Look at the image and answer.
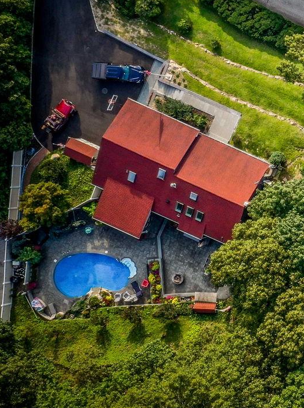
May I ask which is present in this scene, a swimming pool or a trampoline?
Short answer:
swimming pool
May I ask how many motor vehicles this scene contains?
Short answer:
2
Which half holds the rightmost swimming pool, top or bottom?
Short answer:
bottom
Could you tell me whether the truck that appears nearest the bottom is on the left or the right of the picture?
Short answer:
left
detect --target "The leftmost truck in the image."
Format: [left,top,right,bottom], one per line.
[35,94,78,139]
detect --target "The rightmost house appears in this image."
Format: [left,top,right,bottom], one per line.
[92,96,278,244]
